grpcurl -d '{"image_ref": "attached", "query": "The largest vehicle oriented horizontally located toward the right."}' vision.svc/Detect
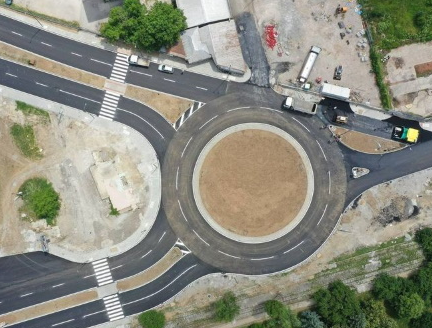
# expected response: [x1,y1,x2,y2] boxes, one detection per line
[281,94,319,113]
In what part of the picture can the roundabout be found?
center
